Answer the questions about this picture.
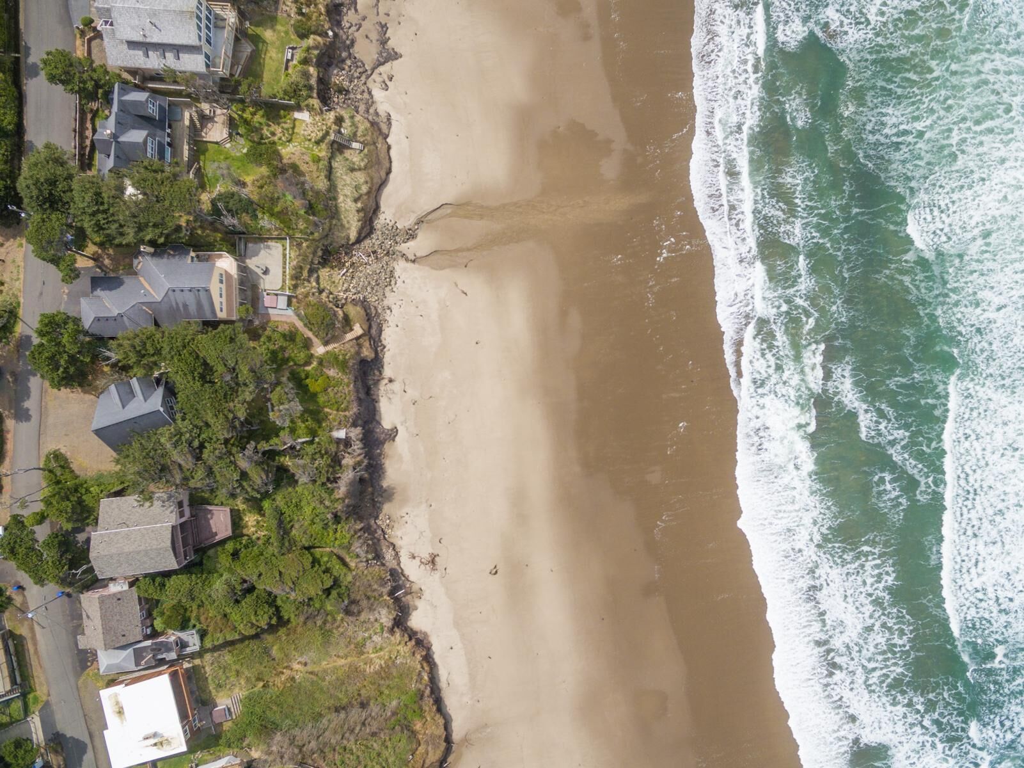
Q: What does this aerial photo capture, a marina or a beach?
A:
beach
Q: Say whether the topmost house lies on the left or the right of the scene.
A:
left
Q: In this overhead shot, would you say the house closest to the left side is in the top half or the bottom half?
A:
bottom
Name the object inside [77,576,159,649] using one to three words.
house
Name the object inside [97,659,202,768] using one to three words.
house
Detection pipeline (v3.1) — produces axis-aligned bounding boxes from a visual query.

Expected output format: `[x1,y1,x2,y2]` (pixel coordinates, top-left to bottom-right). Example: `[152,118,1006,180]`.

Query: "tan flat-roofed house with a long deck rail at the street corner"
[0,626,33,703]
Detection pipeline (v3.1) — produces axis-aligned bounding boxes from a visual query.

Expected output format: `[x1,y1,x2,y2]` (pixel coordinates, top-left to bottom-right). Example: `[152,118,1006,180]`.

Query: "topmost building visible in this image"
[94,0,225,86]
